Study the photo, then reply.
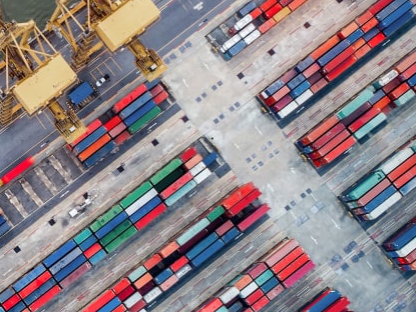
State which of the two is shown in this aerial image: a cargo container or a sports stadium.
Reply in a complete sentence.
Visible in the photo is a cargo container.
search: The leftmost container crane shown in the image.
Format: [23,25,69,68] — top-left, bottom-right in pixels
[0,0,91,145]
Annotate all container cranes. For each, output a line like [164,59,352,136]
[46,0,172,84]
[0,0,91,145]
